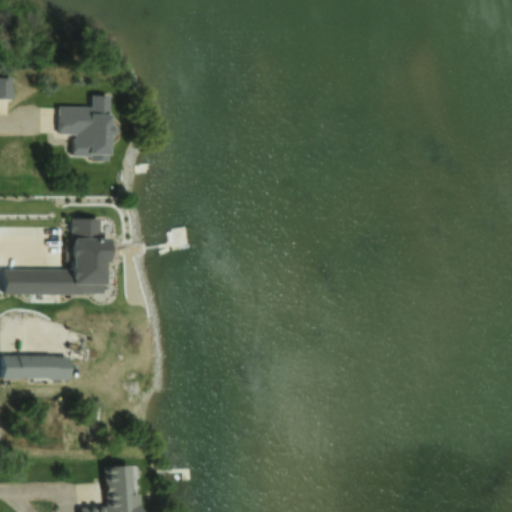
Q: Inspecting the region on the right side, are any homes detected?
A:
No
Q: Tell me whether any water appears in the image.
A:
Yes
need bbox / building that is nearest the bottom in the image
[78,466,143,512]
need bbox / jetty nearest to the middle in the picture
[147,227,187,250]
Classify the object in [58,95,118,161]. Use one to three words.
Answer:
house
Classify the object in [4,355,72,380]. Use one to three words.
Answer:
house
